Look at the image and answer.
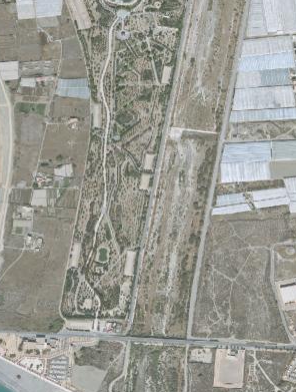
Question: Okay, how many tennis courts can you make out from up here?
0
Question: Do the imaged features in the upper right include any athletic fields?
No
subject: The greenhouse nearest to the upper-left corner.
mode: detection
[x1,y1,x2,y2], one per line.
[15,0,36,19]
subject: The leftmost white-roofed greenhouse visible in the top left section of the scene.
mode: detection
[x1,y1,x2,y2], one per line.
[0,62,18,81]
